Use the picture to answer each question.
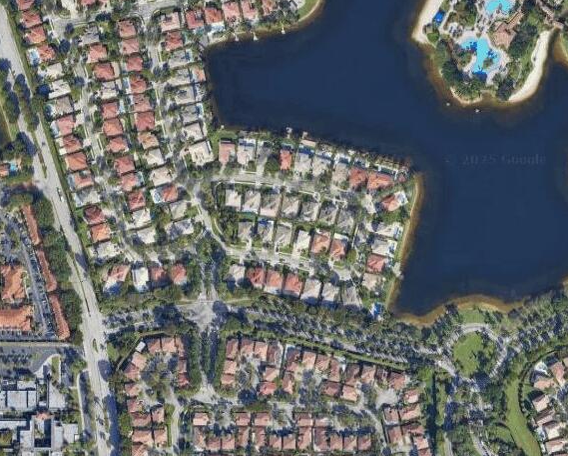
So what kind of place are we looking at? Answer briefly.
residential area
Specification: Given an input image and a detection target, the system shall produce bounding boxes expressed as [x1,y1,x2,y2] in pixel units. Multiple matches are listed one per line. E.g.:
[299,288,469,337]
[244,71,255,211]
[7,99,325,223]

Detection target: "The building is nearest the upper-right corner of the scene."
[490,10,522,46]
